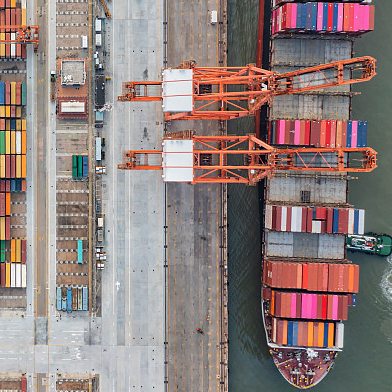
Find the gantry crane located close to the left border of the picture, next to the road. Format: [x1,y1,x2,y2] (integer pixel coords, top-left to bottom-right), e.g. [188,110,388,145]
[0,23,41,51]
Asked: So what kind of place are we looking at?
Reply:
port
